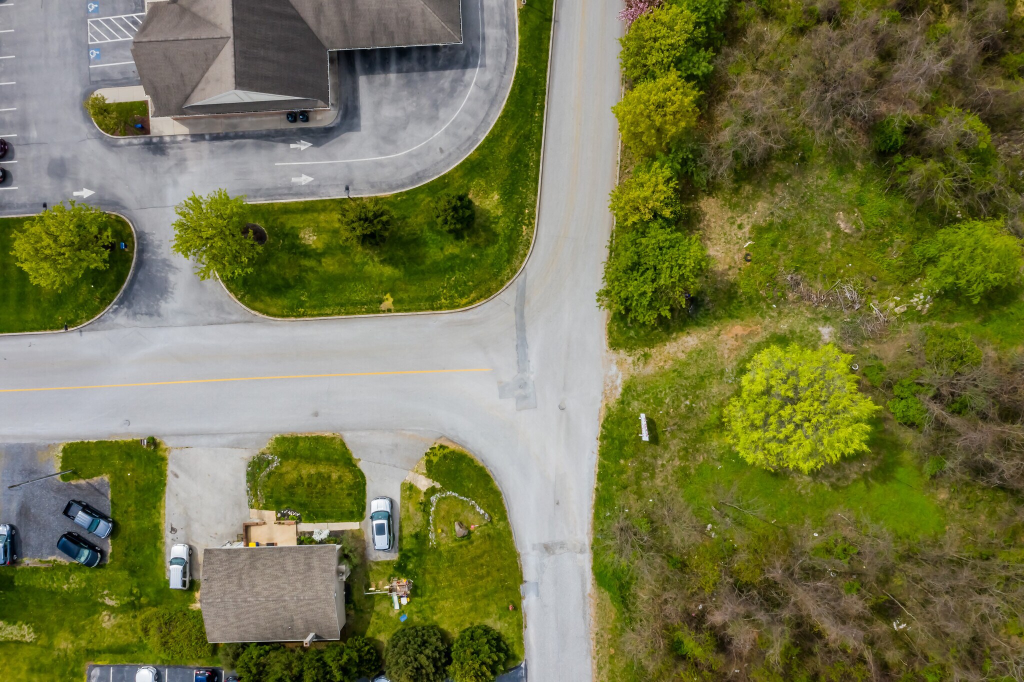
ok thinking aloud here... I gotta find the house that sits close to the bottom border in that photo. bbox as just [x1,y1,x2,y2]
[197,541,351,650]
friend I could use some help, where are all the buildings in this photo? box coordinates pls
[197,541,351,650]
[127,0,462,121]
